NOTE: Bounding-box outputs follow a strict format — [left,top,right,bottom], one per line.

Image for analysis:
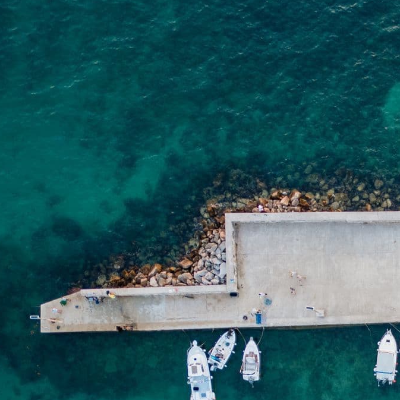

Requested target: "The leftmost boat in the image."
[184,330,217,400]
